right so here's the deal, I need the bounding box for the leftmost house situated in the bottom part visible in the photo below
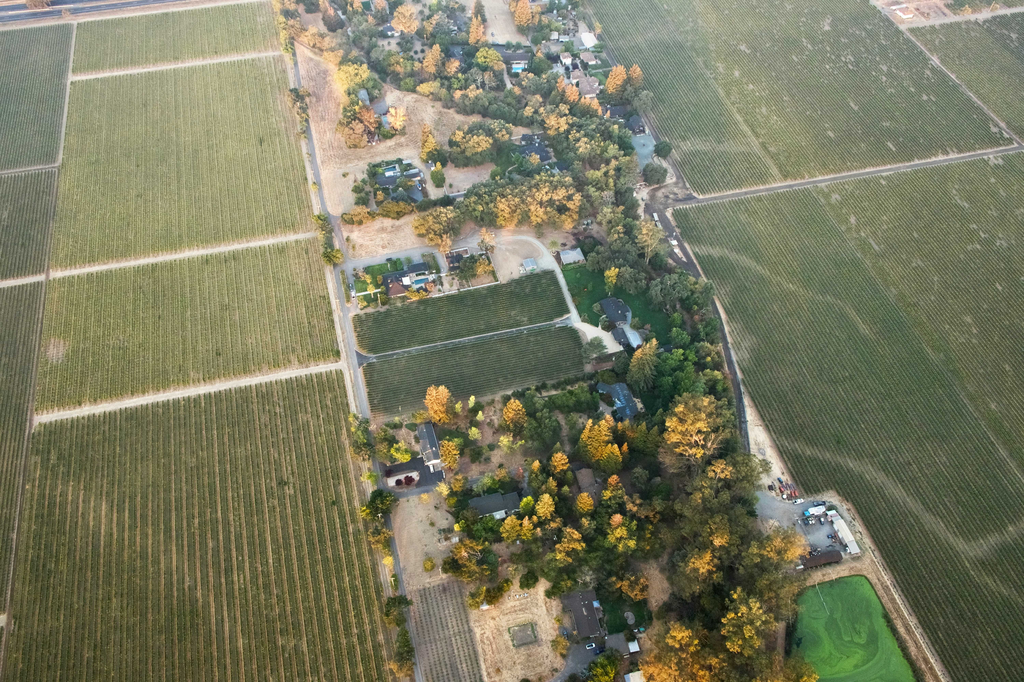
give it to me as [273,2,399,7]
[416,424,440,467]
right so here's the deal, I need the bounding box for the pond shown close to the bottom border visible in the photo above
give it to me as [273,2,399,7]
[791,576,914,682]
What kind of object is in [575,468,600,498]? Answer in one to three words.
house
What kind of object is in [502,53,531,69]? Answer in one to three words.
house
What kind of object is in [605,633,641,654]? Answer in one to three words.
building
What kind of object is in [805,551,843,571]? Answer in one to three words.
barn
